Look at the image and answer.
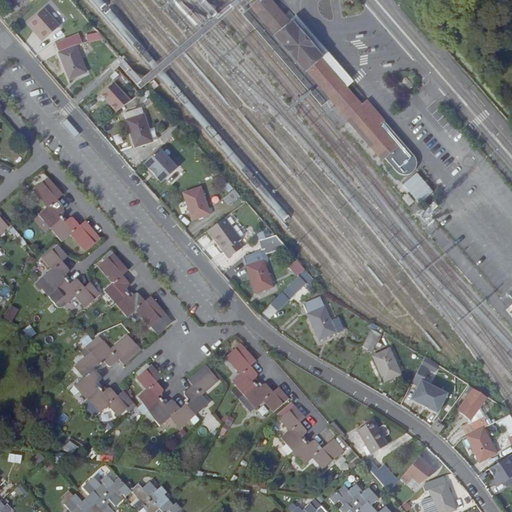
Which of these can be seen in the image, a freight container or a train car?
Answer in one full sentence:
There is a train car in the scene.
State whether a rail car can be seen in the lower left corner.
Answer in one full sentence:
No, the scene shows no rail car in the lower left corner.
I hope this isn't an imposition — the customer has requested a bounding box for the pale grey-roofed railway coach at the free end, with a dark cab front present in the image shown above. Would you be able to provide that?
[248,176,288,220]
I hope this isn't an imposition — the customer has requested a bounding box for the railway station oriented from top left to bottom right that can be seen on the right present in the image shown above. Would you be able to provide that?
[246,0,400,156]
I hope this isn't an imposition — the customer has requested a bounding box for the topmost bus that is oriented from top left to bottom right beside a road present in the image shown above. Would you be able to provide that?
[60,116,80,138]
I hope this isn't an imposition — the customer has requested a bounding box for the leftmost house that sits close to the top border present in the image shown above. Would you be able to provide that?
[26,4,62,41]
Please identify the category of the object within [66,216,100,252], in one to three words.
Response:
house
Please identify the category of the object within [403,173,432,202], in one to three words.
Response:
shed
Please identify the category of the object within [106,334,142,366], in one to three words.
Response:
house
